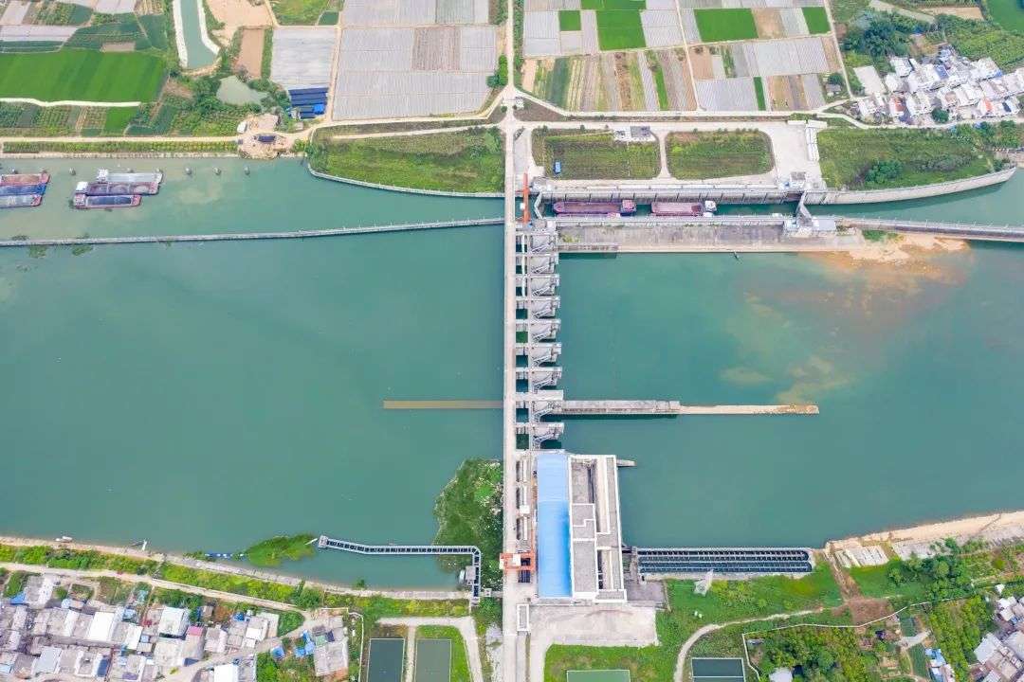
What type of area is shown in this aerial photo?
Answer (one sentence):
This image shows a port.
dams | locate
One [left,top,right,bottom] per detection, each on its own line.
[503,129,562,682]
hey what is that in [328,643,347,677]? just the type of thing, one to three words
house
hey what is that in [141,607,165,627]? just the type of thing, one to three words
house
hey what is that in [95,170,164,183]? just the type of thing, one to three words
ship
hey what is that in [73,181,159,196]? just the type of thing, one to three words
ship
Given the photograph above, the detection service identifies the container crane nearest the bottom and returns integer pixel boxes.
[498,547,535,574]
